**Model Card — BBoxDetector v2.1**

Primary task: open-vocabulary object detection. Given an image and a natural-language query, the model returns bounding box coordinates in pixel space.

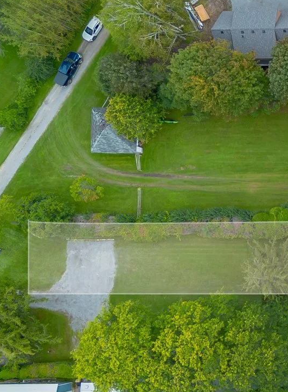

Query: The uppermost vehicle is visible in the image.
[84,15,105,42]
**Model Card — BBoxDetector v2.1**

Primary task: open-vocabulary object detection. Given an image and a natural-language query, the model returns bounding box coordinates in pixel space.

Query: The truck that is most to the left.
[55,51,84,88]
